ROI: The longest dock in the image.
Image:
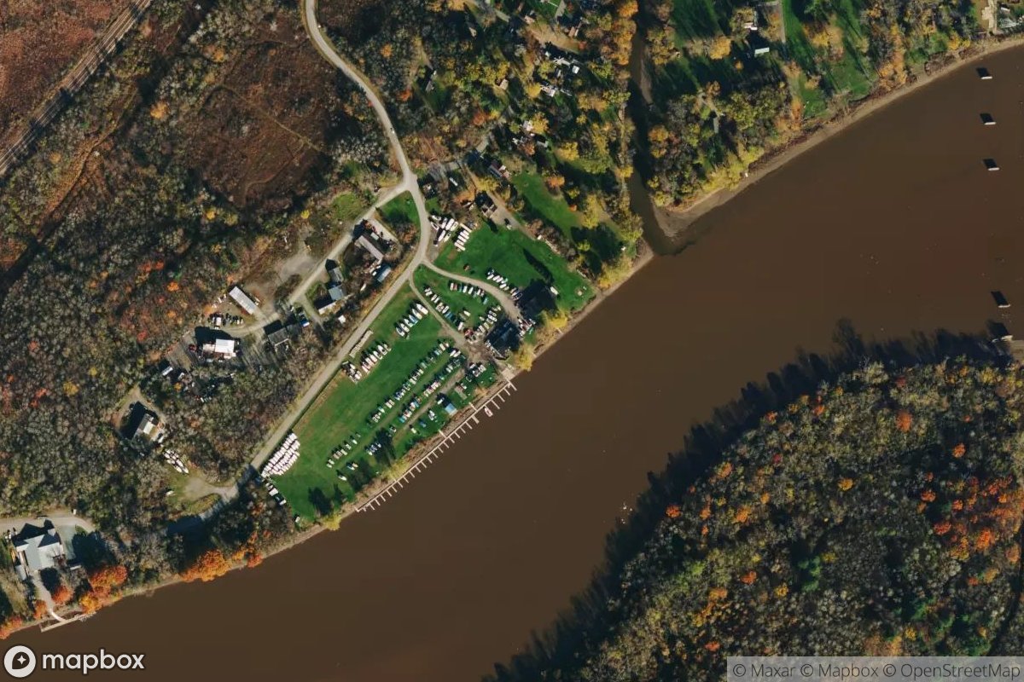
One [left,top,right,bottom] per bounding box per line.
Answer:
[355,377,516,512]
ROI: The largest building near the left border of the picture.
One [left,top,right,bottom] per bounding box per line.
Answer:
[10,533,62,573]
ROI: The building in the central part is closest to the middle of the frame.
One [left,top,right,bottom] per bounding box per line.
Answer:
[486,320,519,352]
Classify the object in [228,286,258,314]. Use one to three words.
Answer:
shed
